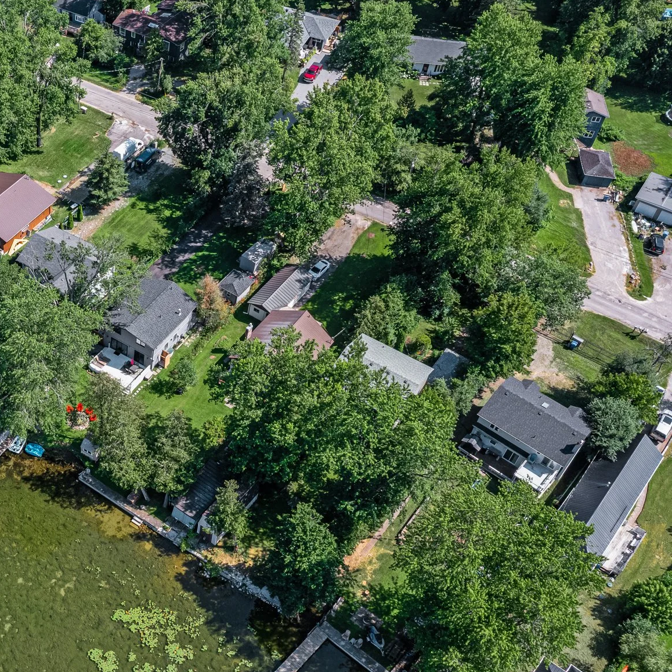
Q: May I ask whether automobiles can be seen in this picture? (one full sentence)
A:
Yes, this view includes an automobile.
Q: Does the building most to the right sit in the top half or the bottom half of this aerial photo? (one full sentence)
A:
You can find the building most to the right in the top half.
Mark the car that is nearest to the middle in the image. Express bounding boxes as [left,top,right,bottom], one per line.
[308,260,332,284]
